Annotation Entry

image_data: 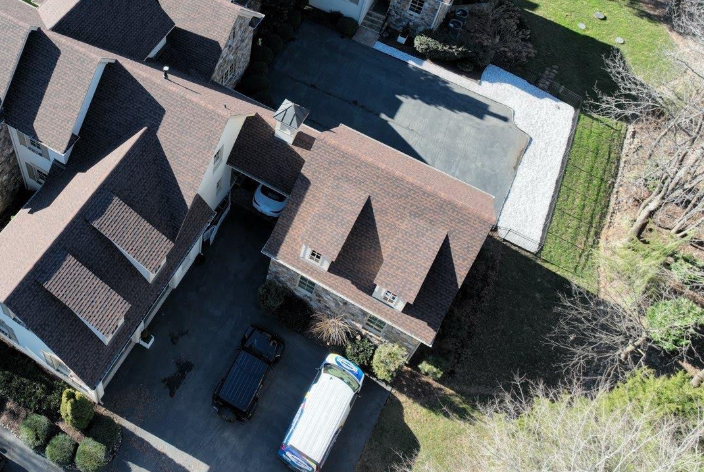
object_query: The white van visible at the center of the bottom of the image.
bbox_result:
[272,359,364,472]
